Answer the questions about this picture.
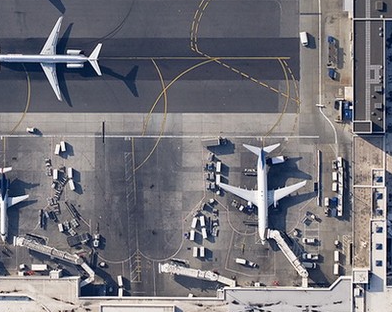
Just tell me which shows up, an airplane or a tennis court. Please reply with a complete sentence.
The image shows an airplane.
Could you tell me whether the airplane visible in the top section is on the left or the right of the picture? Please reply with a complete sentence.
The airplane visible in the top section appears in the left half of the scene.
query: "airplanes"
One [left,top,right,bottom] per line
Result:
[220,145,307,244]
[0,17,102,99]
[0,166,30,239]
